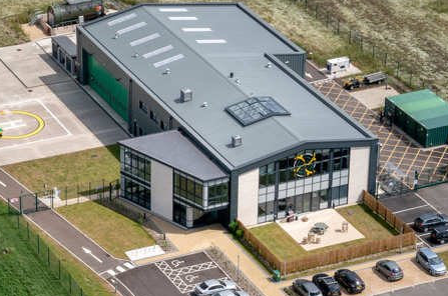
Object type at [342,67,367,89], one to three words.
work vehicle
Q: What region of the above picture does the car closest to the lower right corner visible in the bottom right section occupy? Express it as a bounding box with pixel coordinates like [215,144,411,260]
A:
[413,244,448,273]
